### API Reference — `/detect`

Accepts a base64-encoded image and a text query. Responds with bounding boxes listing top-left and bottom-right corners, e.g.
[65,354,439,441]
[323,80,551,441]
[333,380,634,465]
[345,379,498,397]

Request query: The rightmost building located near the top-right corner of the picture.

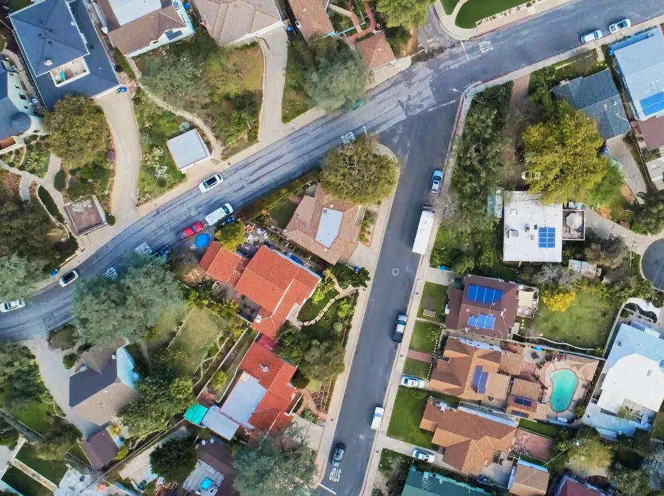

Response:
[607,27,664,151]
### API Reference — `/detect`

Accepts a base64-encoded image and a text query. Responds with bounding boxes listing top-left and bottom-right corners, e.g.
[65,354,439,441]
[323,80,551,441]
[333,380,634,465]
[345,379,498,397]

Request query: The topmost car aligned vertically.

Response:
[430,169,444,195]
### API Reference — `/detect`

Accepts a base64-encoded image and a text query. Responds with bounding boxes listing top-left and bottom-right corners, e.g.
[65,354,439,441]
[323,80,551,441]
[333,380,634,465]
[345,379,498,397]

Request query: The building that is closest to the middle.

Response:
[283,182,362,264]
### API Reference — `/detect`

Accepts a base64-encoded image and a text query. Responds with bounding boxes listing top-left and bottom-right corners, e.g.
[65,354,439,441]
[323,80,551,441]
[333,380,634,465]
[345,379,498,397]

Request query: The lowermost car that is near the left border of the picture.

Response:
[1,297,27,313]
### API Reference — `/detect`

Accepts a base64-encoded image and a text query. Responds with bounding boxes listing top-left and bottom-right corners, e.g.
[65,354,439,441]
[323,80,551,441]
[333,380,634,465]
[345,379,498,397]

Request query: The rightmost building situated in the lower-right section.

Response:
[593,318,664,414]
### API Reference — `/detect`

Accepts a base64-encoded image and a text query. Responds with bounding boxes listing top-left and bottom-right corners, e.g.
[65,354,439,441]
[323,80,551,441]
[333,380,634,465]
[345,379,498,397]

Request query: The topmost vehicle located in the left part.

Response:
[198,173,225,194]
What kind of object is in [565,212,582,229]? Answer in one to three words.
umbrella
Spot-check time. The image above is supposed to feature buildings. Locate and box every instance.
[0,55,51,157]
[402,465,492,496]
[283,182,362,264]
[289,0,340,43]
[202,341,299,445]
[80,426,121,470]
[607,27,664,151]
[569,259,596,277]
[445,274,518,339]
[553,69,630,139]
[502,191,562,262]
[593,318,664,414]
[98,0,197,57]
[506,378,550,420]
[168,129,214,170]
[69,336,140,425]
[64,196,112,235]
[10,0,126,116]
[549,470,610,496]
[420,395,518,475]
[510,462,550,496]
[195,0,284,46]
[354,32,396,70]
[199,241,323,337]
[431,335,522,401]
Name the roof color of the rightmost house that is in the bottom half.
white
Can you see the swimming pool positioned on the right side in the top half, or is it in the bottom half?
bottom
